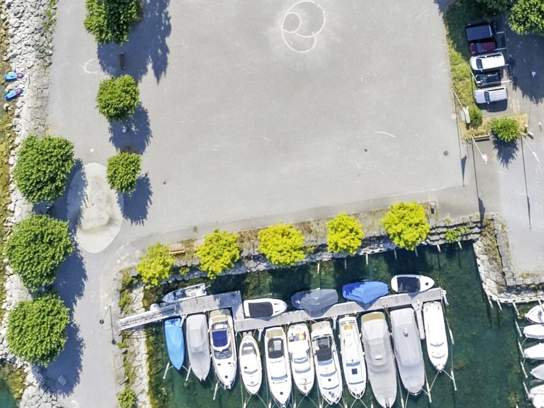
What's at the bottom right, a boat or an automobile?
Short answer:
boat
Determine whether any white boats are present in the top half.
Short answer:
No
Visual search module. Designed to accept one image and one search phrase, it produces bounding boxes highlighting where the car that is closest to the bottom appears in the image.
[473,86,509,105]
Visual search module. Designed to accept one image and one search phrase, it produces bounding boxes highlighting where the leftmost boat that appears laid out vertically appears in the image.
[161,315,185,370]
